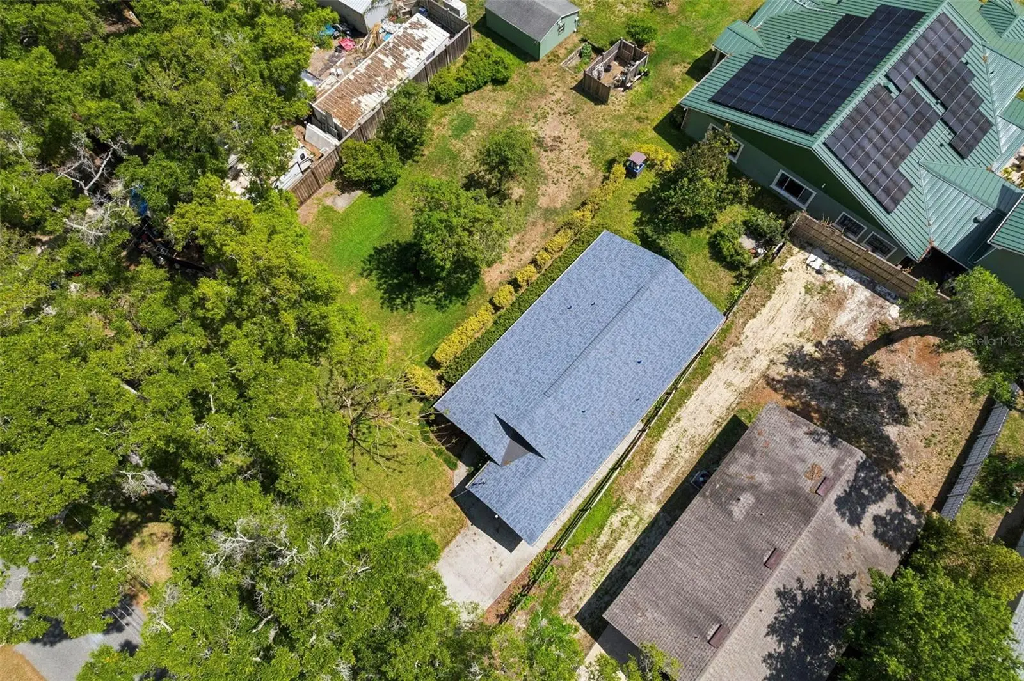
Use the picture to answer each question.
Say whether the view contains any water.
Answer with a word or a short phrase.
No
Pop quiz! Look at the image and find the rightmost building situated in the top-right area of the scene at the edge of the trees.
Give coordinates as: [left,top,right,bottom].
[680,0,1024,313]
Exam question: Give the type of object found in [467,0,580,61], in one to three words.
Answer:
shed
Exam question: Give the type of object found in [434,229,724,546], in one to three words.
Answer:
house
